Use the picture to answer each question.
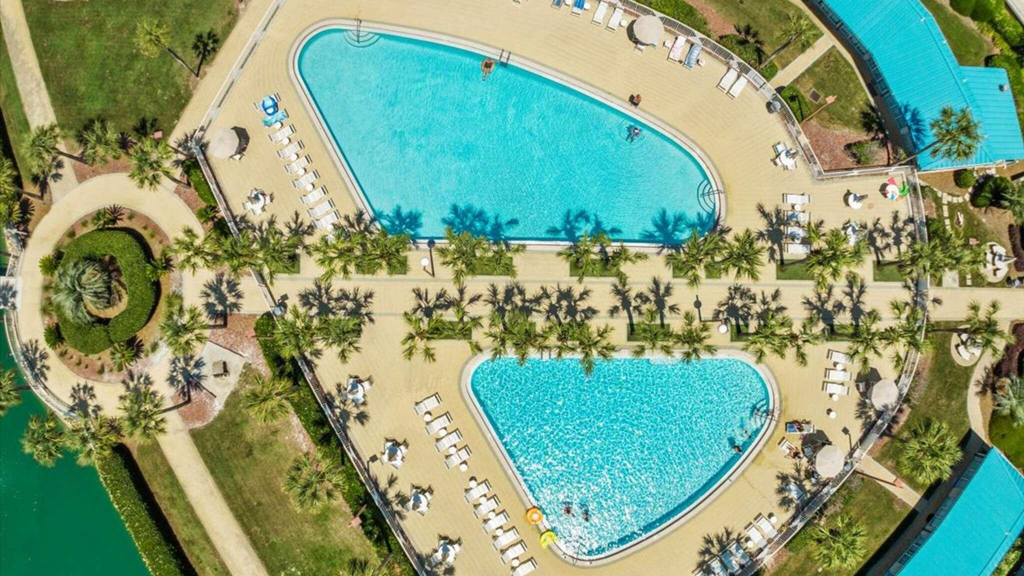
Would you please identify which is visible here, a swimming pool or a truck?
swimming pool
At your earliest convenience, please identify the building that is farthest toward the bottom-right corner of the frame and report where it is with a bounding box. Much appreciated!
[880,446,1024,576]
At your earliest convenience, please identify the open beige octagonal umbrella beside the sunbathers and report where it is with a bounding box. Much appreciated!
[810,442,847,479]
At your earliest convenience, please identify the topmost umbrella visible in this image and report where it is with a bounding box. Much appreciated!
[631,14,665,48]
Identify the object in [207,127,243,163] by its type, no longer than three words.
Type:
umbrella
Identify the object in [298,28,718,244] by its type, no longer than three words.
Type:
swimming pool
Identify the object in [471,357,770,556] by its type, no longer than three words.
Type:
swimming pool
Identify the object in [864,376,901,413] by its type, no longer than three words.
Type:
umbrella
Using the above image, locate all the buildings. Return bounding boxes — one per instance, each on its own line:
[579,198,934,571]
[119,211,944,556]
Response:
[880,446,1024,576]
[802,0,1024,171]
